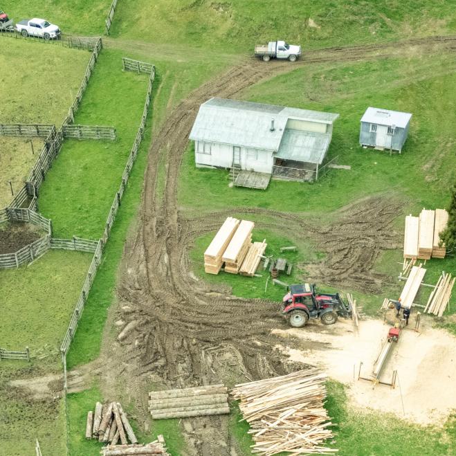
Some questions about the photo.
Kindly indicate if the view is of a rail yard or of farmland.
farmland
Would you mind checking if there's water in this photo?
No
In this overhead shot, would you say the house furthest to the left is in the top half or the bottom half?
top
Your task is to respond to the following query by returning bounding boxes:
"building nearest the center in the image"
[189,97,333,185]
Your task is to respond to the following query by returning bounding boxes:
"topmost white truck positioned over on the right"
[255,39,301,62]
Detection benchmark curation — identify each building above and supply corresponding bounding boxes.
[362,105,408,150]
[189,97,333,185]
